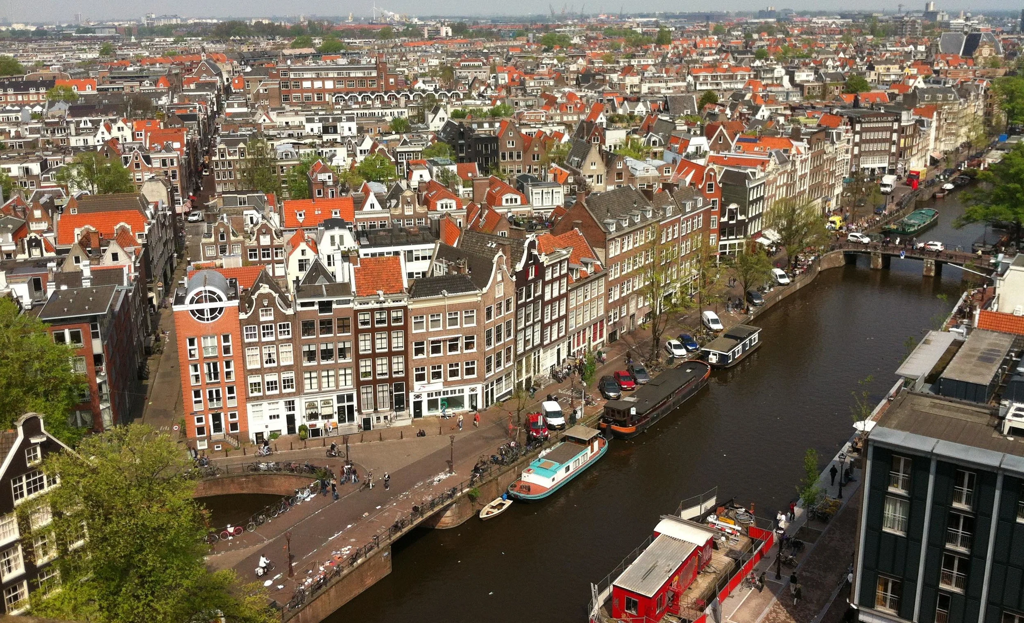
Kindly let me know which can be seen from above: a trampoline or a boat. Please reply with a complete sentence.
The one in the frame is a boat.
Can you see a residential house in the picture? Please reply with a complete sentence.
Yes, looking at the shot, I can spot a residential house.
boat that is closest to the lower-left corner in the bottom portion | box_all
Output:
[478,491,519,521]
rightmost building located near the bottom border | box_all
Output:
[839,391,1024,623]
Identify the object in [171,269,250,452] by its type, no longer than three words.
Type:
house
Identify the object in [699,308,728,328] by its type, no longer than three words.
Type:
vehicle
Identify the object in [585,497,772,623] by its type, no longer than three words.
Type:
vessel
